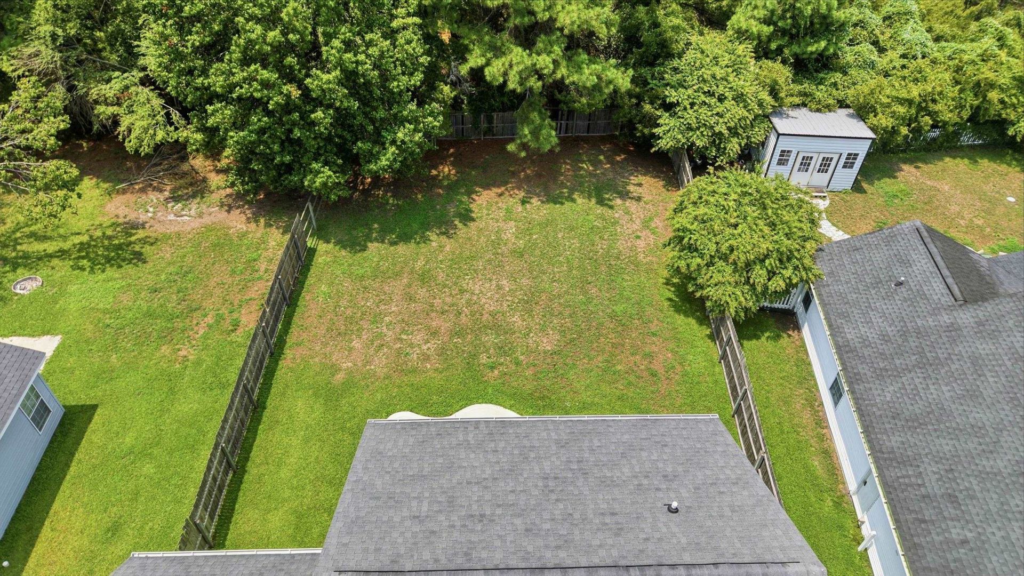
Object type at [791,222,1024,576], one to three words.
house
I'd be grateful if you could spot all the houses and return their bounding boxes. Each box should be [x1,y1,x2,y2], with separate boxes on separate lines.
[0,343,65,537]
[116,412,822,576]
[791,222,1024,576]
